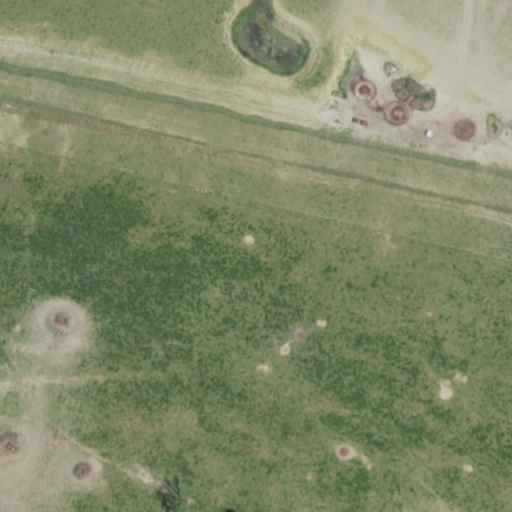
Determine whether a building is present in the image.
No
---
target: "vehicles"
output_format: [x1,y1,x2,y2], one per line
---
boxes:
[332,92,347,98]
[352,118,368,126]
